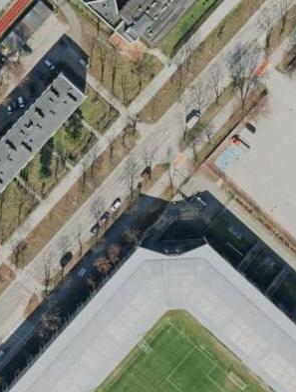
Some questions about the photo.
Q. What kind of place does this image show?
sports ground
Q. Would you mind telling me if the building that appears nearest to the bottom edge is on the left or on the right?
left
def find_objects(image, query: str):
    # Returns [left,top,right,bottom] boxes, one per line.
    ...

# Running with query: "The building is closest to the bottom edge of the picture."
[0,72,85,191]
